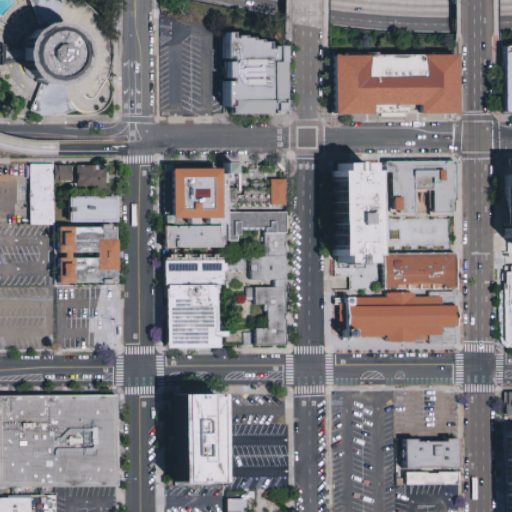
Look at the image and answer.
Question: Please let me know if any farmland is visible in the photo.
No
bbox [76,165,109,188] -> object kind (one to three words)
house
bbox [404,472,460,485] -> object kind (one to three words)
building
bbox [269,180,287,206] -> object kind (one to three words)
building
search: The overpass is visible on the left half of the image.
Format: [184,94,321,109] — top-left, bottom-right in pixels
[0,132,60,156]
